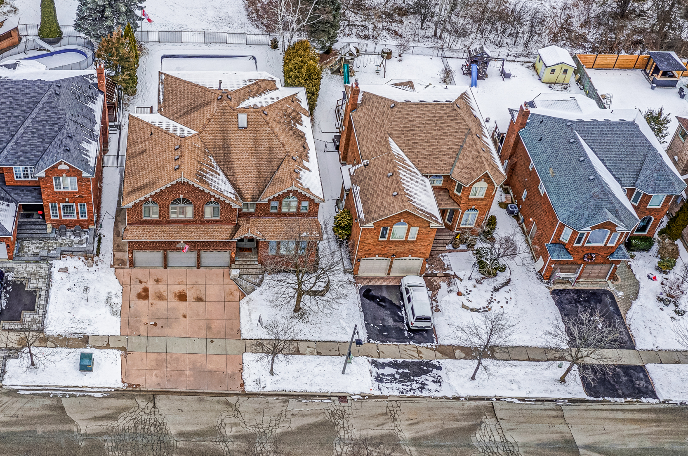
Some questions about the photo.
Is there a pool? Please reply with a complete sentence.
Yes, you can see a pool in this photo.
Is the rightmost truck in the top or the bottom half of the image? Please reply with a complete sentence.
Seen from above, the rightmost truck lies in the bottom half of the view.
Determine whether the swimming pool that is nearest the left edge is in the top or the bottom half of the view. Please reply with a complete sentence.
You can find the swimming pool that is nearest the left edge in the top half.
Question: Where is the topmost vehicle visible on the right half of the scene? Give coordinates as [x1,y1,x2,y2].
[403,274,437,334]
